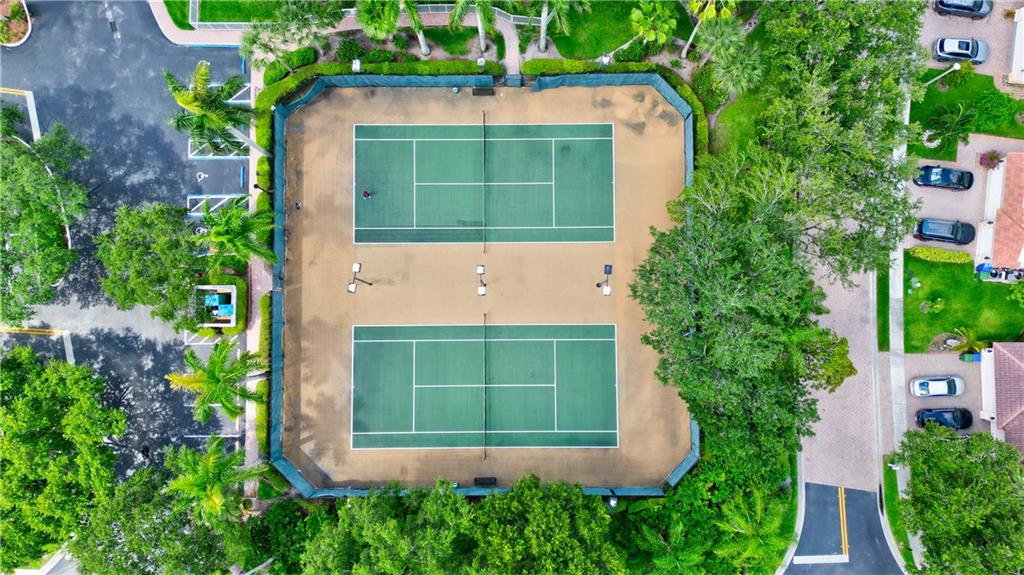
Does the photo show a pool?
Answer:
No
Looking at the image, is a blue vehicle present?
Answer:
Yes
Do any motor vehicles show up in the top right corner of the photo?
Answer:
Yes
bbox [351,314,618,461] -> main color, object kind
green tennis court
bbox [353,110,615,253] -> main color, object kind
green tennis court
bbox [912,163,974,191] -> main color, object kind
blue car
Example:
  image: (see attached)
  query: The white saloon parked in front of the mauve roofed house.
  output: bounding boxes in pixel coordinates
[908,373,965,399]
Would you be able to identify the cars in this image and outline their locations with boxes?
[931,0,992,21]
[915,405,972,433]
[930,37,987,63]
[913,218,974,245]
[908,373,965,399]
[912,163,974,191]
